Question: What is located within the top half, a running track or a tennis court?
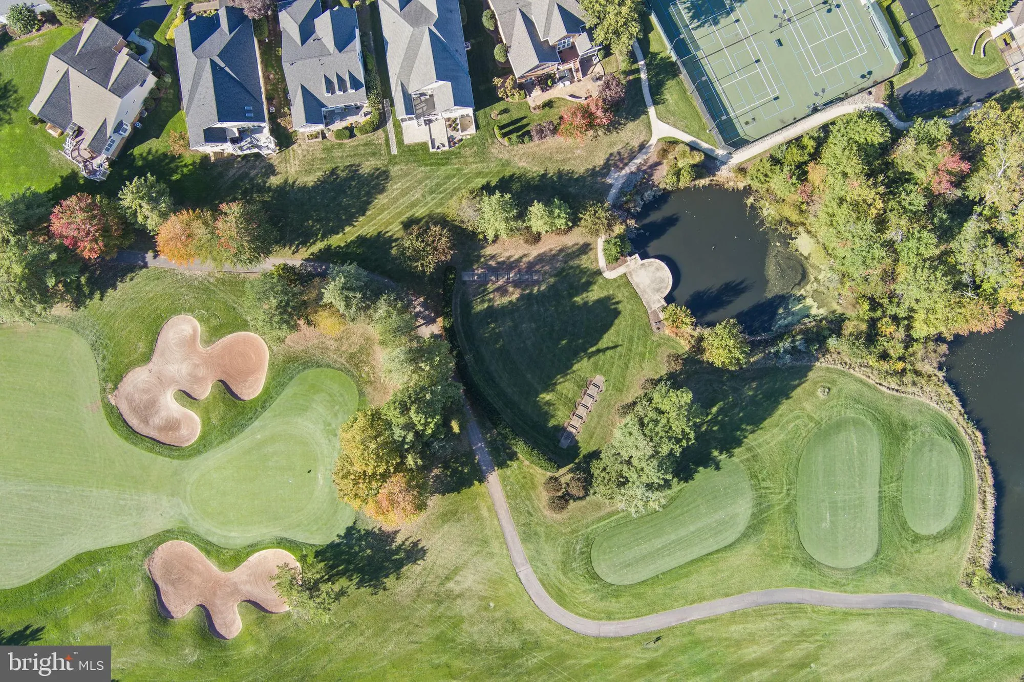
tennis court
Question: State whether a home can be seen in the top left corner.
Yes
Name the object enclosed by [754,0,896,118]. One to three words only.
tennis court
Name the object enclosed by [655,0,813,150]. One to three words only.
tennis court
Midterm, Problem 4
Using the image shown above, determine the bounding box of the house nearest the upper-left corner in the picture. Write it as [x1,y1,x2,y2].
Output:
[28,17,159,184]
